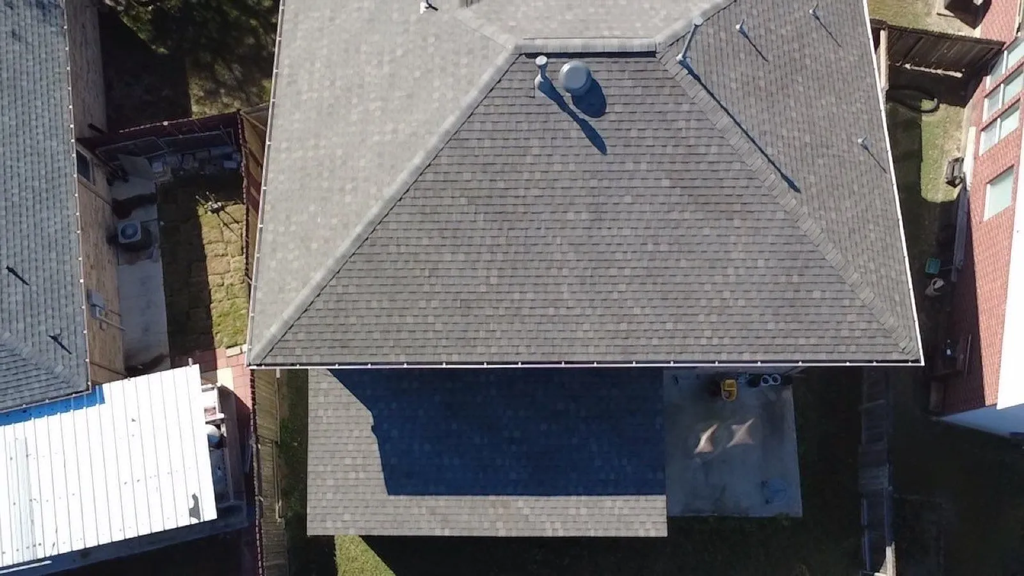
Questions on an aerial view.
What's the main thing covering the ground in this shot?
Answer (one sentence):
Most of the picture is covered by buildings.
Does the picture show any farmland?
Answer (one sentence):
No, farmland can't be seen anywhere here.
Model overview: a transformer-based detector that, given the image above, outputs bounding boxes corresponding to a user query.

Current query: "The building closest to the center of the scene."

[244,0,923,537]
